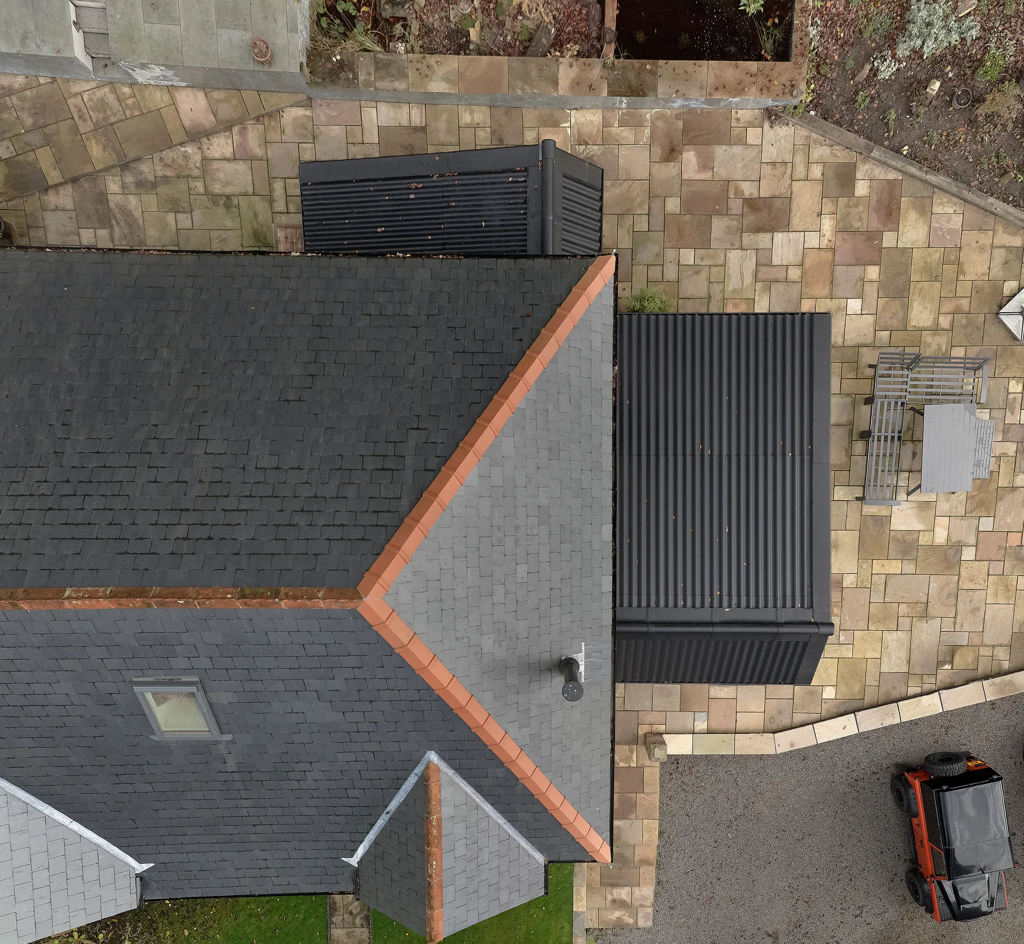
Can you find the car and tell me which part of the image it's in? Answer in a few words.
bottom right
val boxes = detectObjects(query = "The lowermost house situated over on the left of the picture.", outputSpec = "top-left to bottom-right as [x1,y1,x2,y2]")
[0,242,622,944]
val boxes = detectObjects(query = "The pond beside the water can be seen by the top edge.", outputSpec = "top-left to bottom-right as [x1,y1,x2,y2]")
[615,0,791,62]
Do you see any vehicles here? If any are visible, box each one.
[888,740,1024,924]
